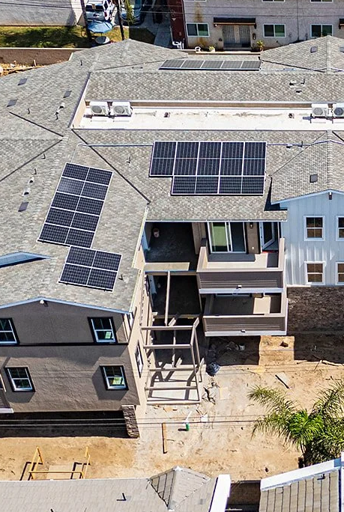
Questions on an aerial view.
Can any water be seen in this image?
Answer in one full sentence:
No, there's no water in this view.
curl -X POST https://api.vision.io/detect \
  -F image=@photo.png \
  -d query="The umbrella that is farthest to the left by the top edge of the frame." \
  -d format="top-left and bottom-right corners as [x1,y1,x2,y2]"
[85,22,113,44]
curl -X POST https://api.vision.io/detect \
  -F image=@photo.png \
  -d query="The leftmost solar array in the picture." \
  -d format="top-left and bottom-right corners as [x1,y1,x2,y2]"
[37,161,122,290]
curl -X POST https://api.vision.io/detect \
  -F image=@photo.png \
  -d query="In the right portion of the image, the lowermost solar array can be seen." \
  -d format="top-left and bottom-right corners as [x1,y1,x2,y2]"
[147,140,266,194]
